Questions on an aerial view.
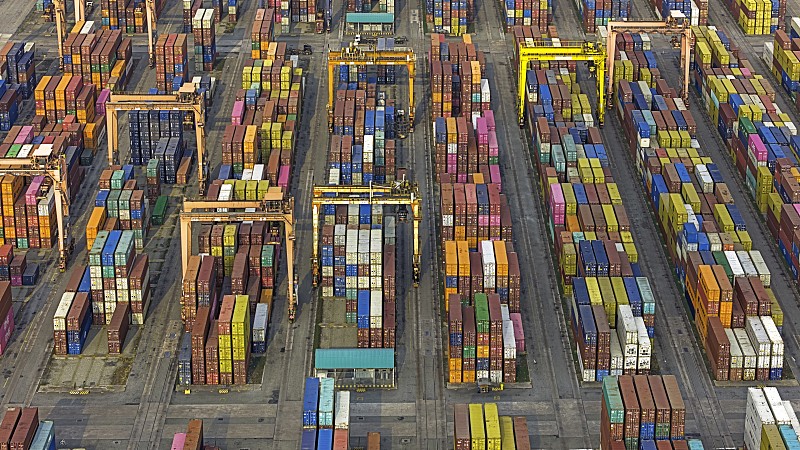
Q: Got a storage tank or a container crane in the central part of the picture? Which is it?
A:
container crane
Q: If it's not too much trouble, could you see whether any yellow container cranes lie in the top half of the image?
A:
Yes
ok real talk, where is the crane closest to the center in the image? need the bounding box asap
[309,171,424,288]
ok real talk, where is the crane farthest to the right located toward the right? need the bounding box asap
[602,9,693,108]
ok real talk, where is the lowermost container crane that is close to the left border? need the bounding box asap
[0,145,73,267]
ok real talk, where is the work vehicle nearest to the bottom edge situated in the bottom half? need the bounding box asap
[476,380,490,397]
